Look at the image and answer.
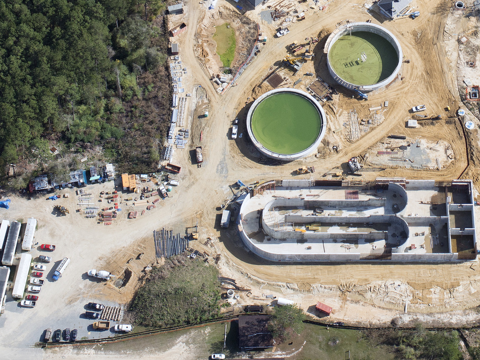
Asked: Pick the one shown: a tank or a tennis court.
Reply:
tank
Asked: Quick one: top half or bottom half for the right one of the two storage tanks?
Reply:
top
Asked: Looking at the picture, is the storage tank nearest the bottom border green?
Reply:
Yes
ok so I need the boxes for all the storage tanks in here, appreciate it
[247,88,326,162]
[325,23,403,93]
